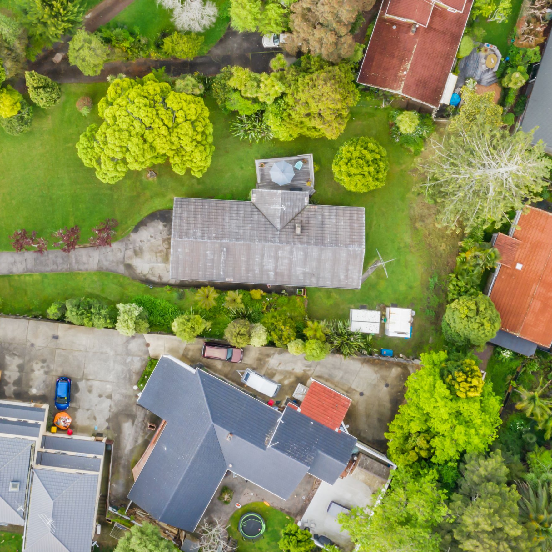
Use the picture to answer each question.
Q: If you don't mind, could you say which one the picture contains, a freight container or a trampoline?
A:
trampoline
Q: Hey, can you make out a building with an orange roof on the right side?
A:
Yes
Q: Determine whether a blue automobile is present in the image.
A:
Yes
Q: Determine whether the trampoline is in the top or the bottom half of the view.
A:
bottom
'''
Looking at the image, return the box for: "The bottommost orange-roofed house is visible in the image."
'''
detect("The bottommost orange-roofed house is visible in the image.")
[483,204,552,356]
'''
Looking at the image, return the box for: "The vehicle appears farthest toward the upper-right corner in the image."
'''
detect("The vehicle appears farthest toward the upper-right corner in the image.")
[263,29,299,47]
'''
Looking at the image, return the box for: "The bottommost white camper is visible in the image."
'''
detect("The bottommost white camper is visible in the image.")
[239,369,284,401]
